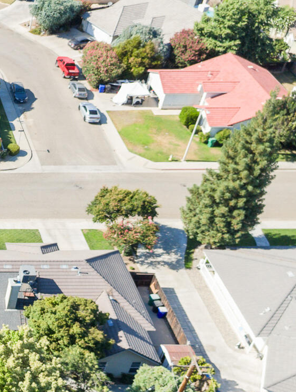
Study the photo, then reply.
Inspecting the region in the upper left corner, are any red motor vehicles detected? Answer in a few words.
Yes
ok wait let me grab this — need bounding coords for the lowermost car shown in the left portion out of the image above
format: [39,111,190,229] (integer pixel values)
[77,102,105,123]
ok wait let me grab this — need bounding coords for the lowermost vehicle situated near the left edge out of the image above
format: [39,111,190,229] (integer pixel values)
[7,81,32,103]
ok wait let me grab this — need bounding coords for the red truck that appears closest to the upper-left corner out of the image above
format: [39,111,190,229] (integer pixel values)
[53,55,86,80]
